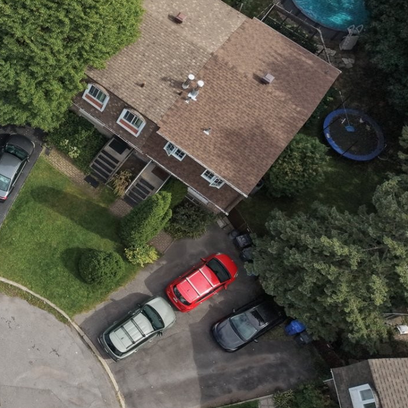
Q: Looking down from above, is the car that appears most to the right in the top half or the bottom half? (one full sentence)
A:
The car that appears most to the right is in the bottom half of the image.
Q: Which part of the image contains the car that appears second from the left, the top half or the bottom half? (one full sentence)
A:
The bottom half of the photo is where the car that appears second from the left is.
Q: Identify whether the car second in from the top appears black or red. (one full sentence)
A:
The car second in from the top looks red in the image.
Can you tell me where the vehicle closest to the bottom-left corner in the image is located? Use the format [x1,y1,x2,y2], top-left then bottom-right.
[98,295,179,363]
